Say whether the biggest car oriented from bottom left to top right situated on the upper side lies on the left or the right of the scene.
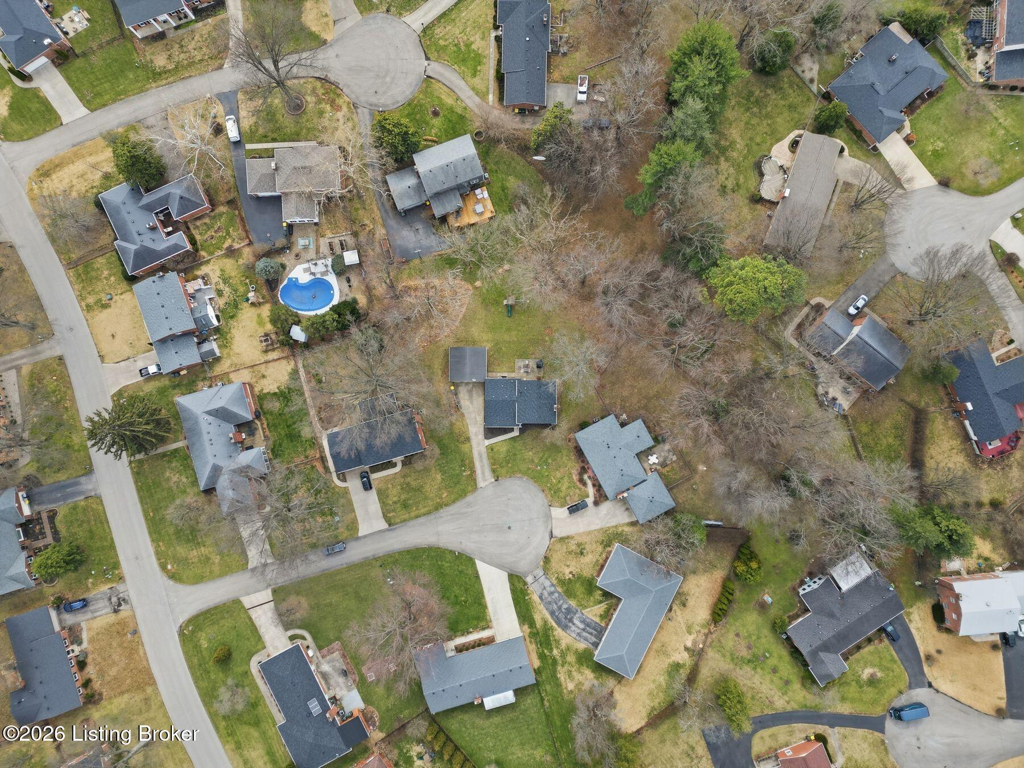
right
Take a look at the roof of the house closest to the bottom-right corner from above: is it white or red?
white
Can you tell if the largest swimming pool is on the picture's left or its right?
left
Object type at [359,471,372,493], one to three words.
vehicle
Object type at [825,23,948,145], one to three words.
house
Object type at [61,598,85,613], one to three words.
car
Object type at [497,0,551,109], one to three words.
house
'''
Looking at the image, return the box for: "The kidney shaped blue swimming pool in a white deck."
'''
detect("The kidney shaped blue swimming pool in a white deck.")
[279,260,339,314]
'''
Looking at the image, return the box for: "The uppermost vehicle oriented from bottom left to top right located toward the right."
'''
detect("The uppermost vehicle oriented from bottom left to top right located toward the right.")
[848,293,870,315]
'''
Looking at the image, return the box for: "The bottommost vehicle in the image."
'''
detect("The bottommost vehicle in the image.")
[890,702,931,721]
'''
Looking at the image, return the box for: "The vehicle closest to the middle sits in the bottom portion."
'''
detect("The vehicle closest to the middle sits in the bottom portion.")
[567,500,590,515]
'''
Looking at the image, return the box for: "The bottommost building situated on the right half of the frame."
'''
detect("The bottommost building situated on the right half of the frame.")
[776,736,833,768]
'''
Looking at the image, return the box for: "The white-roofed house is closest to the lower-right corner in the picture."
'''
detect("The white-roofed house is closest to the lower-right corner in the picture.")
[936,563,1024,637]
